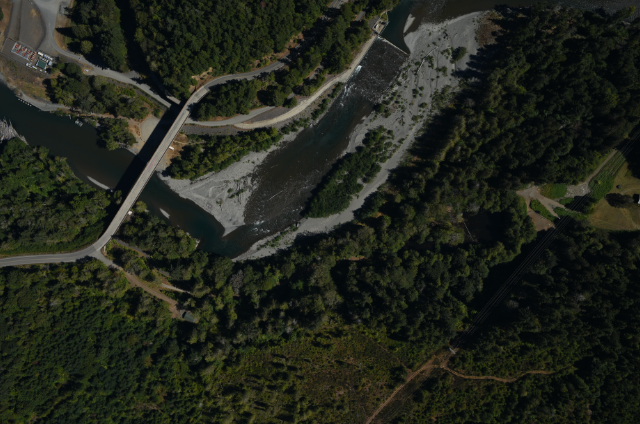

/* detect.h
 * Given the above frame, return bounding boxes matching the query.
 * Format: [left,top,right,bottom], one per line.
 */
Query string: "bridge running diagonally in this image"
[93,84,208,250]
